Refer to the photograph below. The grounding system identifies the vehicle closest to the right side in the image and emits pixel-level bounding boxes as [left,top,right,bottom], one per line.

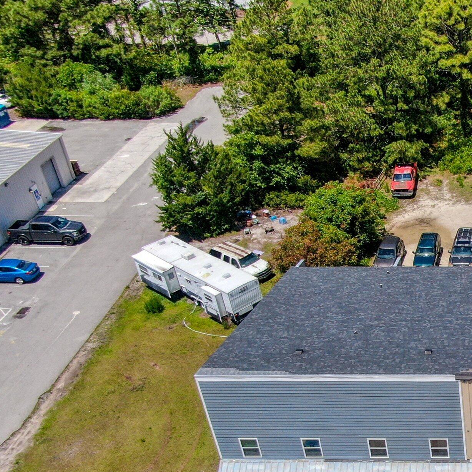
[448,229,472,267]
